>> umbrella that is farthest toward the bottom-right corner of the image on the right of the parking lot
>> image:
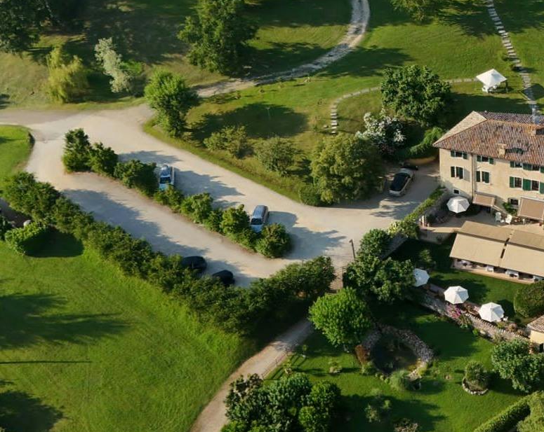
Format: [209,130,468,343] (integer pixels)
[476,295,503,320]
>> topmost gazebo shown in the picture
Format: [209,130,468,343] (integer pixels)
[476,69,505,97]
